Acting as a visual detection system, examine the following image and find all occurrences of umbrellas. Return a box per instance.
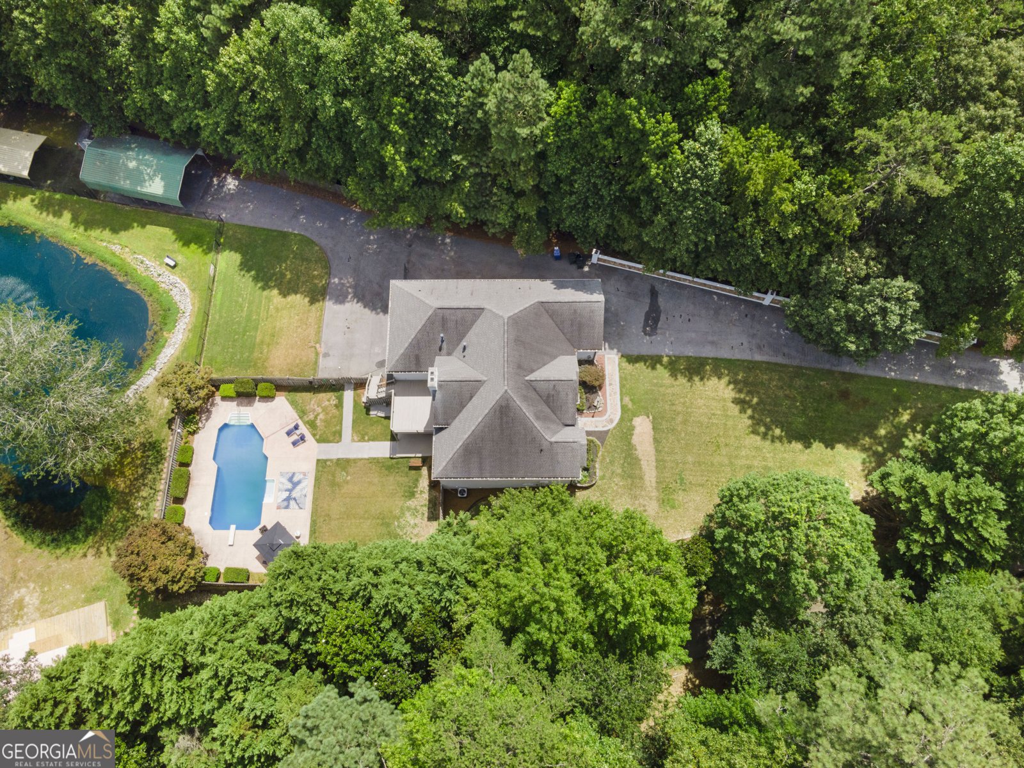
[253,521,305,567]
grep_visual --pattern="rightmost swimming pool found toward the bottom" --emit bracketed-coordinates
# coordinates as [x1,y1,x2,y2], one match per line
[186,396,317,573]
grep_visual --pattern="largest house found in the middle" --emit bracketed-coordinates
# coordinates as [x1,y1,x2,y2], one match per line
[385,278,607,485]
